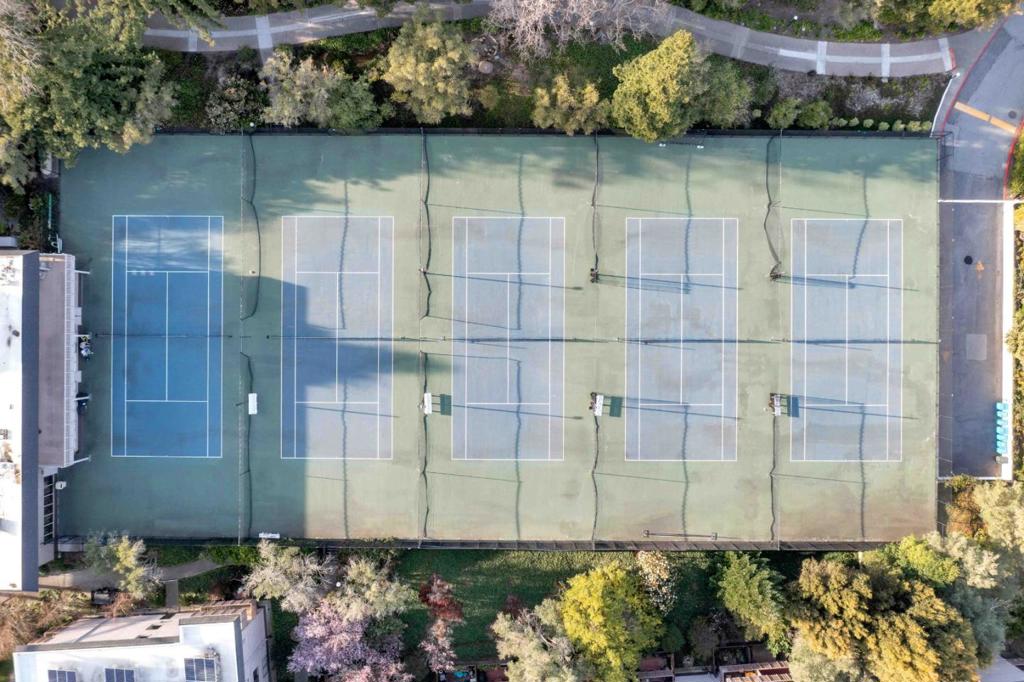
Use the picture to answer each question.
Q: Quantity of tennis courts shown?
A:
5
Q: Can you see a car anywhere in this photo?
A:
No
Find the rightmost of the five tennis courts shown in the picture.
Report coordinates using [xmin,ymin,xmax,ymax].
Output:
[774,138,939,543]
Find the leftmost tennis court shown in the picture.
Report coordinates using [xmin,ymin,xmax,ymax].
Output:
[56,136,253,539]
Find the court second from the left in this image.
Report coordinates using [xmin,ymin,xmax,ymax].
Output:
[251,135,427,541]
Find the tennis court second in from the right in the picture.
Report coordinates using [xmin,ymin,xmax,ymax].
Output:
[596,137,776,542]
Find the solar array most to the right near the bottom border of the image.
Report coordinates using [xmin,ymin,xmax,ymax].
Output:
[185,658,221,682]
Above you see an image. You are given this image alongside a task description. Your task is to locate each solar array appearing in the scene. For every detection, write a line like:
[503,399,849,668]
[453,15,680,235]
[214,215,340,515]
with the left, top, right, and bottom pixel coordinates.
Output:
[48,669,83,682]
[105,667,141,682]
[185,658,221,682]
